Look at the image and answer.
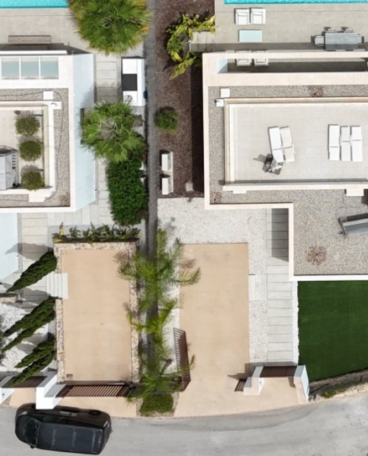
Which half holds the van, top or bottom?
bottom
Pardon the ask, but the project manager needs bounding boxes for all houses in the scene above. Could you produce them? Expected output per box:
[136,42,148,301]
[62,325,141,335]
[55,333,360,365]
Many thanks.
[204,50,368,281]
[0,50,99,280]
